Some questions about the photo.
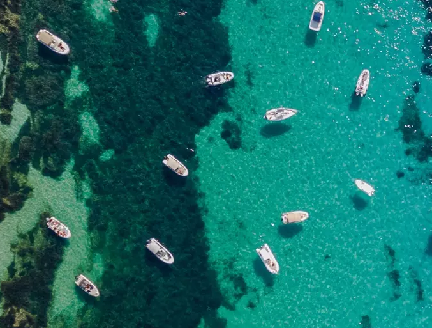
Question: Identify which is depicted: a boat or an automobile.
boat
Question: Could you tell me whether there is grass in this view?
Yes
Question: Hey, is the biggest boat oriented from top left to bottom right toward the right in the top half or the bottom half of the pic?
bottom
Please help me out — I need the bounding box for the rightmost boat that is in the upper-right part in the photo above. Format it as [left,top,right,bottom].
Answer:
[354,71,369,98]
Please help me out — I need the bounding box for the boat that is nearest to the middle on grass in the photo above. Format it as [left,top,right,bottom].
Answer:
[162,157,188,177]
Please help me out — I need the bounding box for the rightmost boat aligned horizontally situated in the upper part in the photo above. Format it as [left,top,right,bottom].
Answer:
[263,108,298,122]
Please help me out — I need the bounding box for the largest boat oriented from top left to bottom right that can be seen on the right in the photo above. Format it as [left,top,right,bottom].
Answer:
[255,242,279,273]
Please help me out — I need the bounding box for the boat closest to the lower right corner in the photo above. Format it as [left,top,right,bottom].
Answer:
[352,177,375,196]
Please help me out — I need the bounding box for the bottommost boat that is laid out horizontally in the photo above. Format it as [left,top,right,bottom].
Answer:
[280,211,309,224]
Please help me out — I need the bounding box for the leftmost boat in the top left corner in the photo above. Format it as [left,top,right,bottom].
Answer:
[35,31,69,54]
